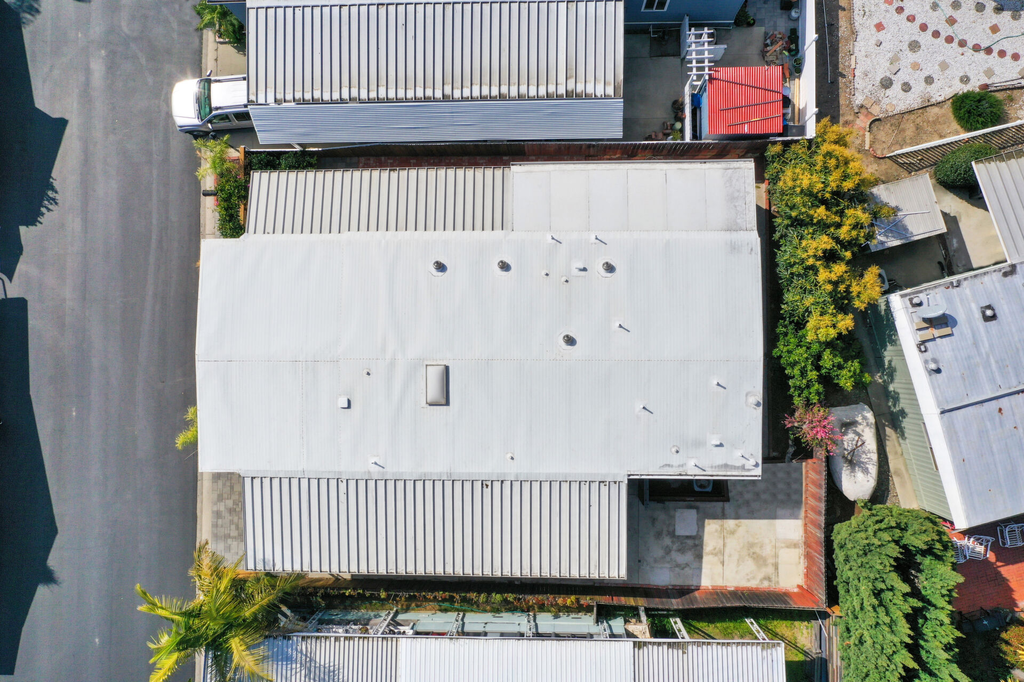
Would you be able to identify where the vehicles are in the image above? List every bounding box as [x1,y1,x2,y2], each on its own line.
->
[170,67,255,136]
